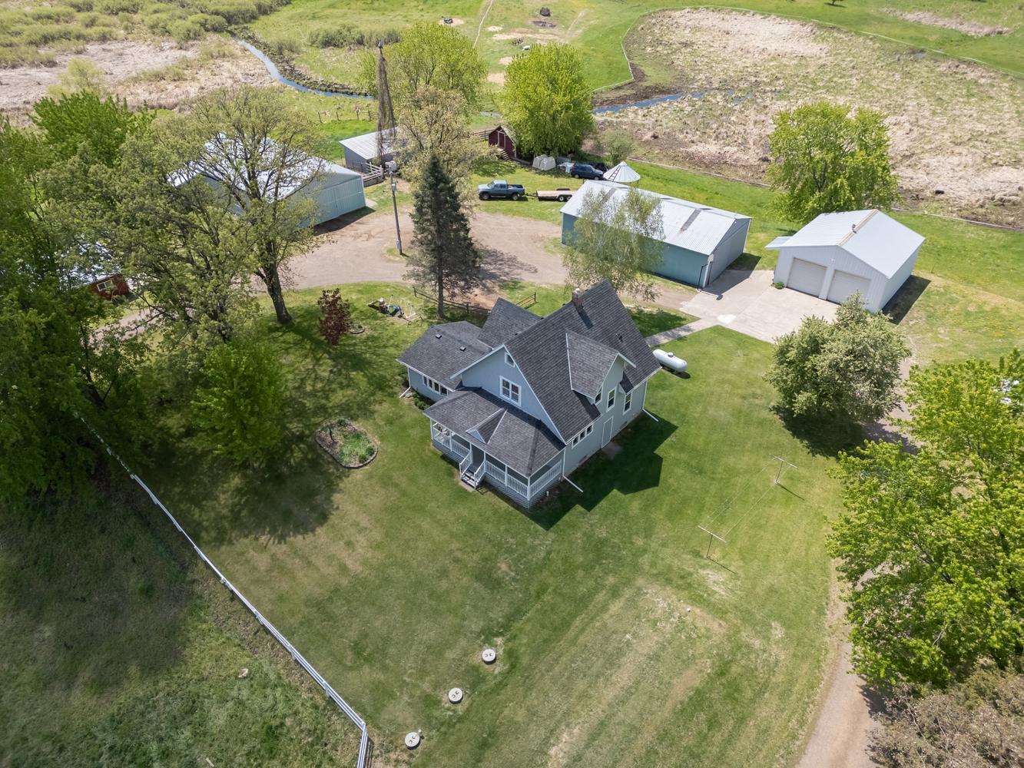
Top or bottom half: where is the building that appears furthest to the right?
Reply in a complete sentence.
The building that appears furthest to the right sits in the top half of the picture.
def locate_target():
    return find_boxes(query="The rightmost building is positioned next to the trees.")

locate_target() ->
[764,208,926,314]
